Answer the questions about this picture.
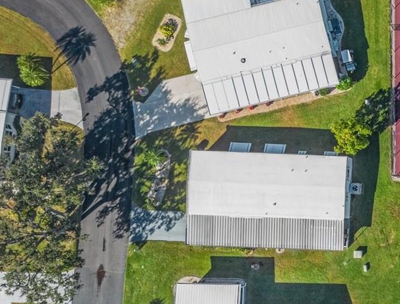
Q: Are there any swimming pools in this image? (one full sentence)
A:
No, I find no swimming pool anywhere in the image.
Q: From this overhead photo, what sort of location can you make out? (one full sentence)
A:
The area seen from above is a residential area.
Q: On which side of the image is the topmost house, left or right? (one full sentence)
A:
The topmost house is on the right side of the image.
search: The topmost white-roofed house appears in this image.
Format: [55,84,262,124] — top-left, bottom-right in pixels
[181,0,340,115]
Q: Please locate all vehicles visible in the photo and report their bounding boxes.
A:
[338,45,358,73]
[4,95,24,111]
